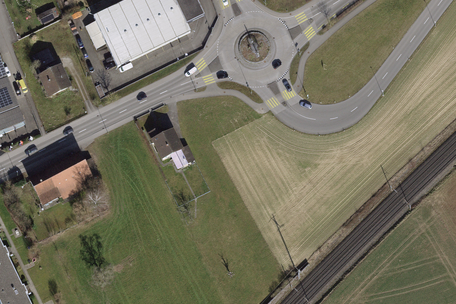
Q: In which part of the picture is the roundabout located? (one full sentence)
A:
You can find the roundabout in the top area of the picture.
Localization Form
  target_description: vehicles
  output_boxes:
[10,168,22,177]
[102,62,114,70]
[185,66,198,76]
[272,58,282,70]
[82,46,89,58]
[102,56,112,64]
[76,35,84,48]
[64,127,74,135]
[121,63,134,72]
[26,145,38,154]
[20,80,27,92]
[137,92,148,100]
[4,65,12,76]
[86,58,94,72]
[284,79,292,92]
[218,72,228,78]
[300,100,313,108]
